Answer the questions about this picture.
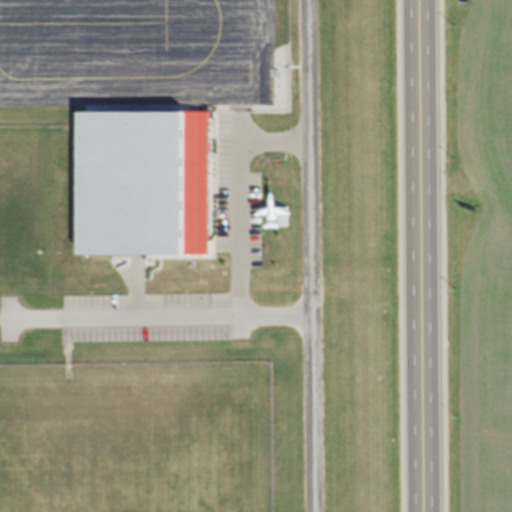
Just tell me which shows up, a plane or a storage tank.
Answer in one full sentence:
It is a plane that can be seen here.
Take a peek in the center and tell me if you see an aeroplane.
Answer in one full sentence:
Yes, an aeroplane is visible in the center.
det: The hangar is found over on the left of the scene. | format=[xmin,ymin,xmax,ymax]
[74,110,209,258]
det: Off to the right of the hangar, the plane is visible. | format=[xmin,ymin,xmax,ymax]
[252,191,290,232]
